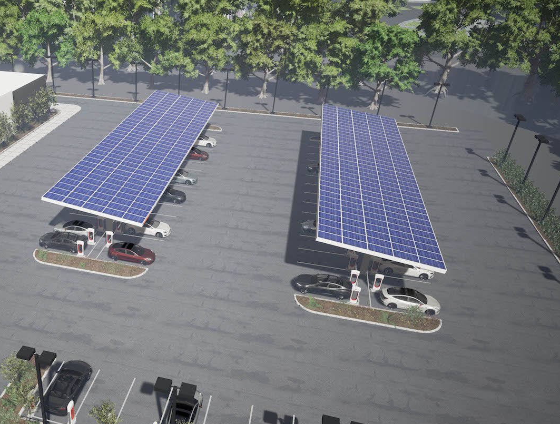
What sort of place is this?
parking lot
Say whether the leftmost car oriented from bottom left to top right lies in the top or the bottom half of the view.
bottom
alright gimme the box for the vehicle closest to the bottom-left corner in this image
[43,359,90,414]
